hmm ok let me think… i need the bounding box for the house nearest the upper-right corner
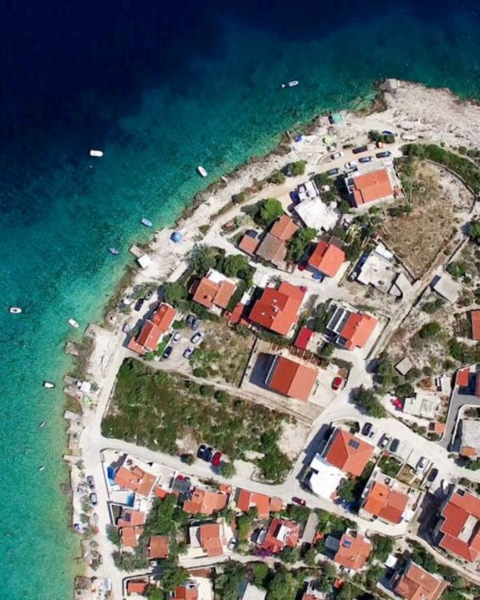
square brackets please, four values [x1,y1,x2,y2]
[346,168,404,207]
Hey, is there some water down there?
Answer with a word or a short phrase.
Yes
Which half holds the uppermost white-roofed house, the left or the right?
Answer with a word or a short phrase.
right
